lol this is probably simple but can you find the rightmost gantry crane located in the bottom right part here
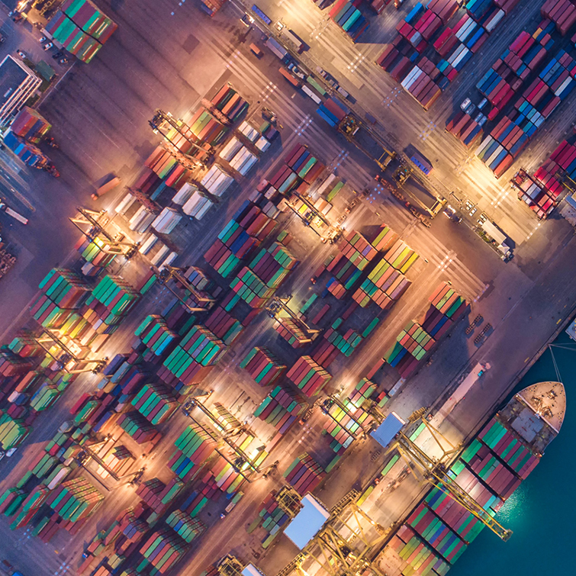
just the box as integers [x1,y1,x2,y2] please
[357,392,516,543]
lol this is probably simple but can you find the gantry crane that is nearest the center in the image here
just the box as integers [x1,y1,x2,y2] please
[265,292,330,345]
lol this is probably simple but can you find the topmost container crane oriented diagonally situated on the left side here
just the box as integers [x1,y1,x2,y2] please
[145,107,218,166]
